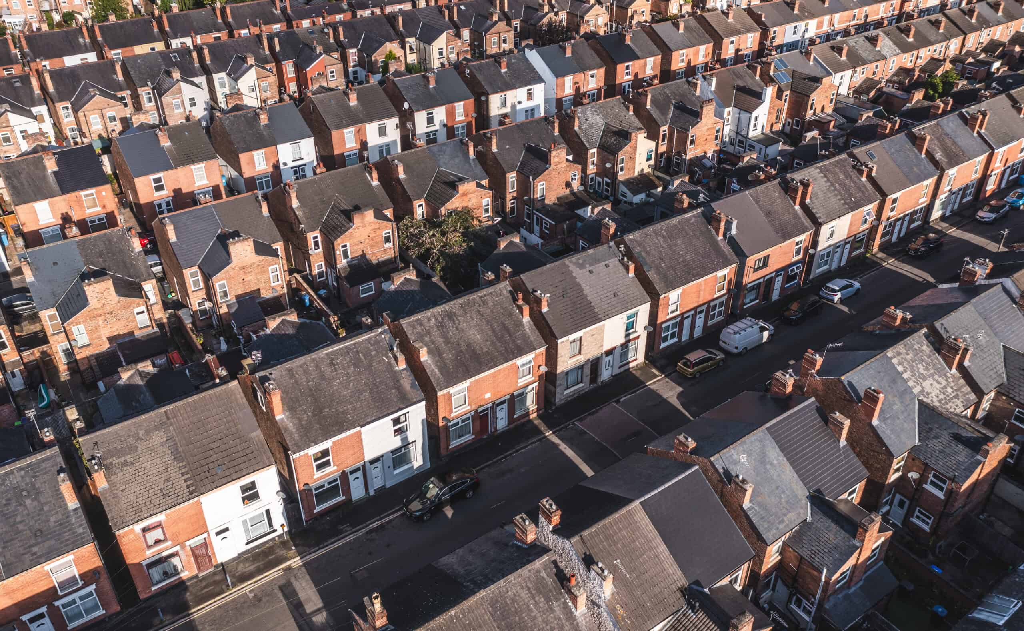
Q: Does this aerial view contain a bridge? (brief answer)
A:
No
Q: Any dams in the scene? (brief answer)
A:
No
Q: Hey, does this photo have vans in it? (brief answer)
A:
Yes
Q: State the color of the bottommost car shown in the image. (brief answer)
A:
black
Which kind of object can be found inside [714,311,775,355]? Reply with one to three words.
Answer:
van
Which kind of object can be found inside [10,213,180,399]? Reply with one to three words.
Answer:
house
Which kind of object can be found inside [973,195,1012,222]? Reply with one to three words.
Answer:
car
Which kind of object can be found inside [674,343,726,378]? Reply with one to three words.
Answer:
car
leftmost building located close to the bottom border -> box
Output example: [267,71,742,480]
[0,406,124,631]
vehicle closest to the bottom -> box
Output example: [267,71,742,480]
[398,463,480,522]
